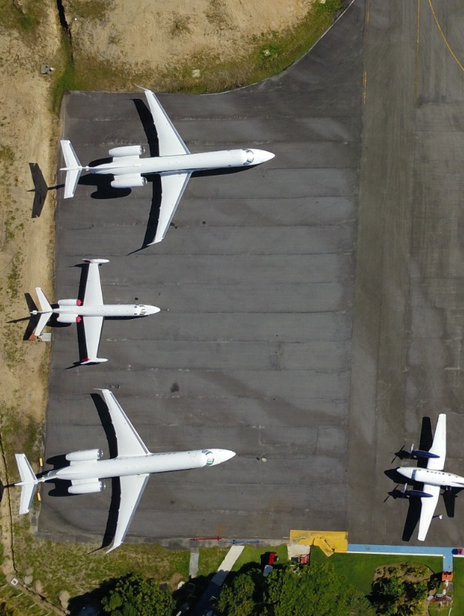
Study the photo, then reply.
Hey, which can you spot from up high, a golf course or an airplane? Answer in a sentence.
Looking from above, you can make out an airplane.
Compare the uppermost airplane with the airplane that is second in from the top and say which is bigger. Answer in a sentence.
The uppermost airplane is bigger than the airplane that is second in from the top.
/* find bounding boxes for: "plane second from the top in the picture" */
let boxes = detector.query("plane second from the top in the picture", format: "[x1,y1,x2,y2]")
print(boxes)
[32,261,160,361]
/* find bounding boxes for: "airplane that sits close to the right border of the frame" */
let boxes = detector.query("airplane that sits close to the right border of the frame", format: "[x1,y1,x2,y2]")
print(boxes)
[396,412,464,540]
